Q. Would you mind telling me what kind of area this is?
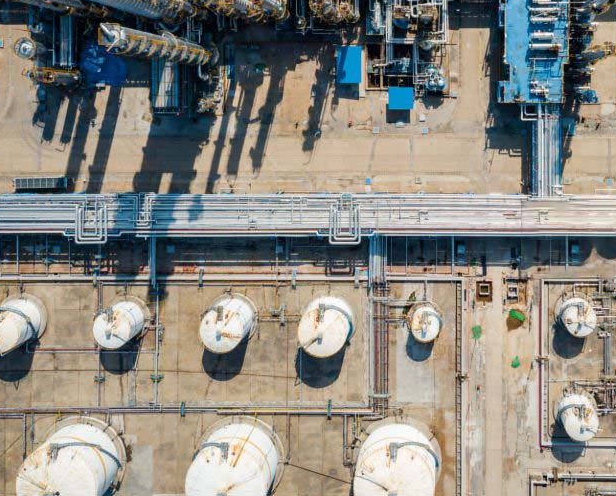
industrial area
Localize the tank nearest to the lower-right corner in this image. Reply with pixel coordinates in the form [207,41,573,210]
[556,392,600,442]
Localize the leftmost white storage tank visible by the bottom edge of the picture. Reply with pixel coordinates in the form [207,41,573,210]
[14,416,126,496]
